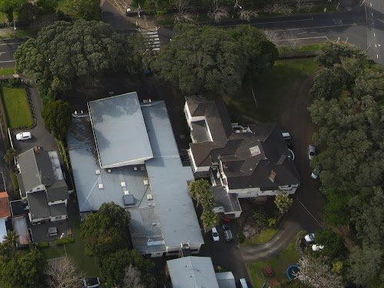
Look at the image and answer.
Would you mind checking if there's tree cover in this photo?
Yes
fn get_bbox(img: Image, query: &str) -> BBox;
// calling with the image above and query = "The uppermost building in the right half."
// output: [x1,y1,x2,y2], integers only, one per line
[173,96,300,219]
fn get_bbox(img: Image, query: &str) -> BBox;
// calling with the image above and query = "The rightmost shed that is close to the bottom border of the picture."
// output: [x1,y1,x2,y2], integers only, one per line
[164,255,234,288]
